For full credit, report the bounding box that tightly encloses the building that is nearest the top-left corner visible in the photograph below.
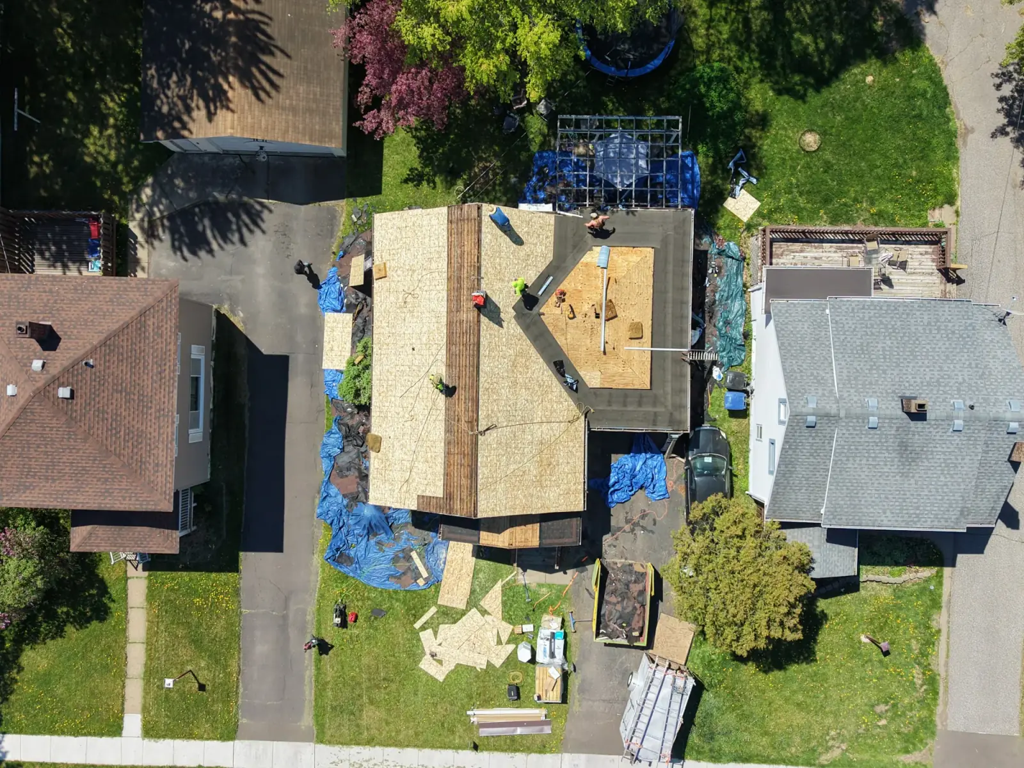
[138,0,355,157]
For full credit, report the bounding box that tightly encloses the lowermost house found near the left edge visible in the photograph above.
[0,270,213,561]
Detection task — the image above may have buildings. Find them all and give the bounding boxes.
[0,270,213,561]
[138,0,355,157]
[744,265,1024,581]
[366,204,697,582]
